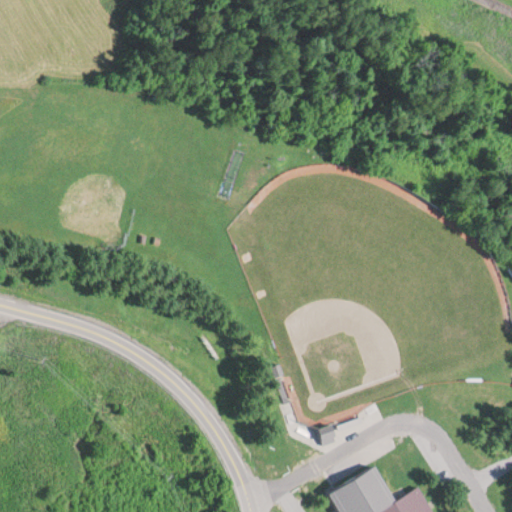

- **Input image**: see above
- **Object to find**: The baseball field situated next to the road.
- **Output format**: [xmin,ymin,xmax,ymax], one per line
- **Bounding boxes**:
[228,164,512,428]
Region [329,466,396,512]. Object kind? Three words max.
building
